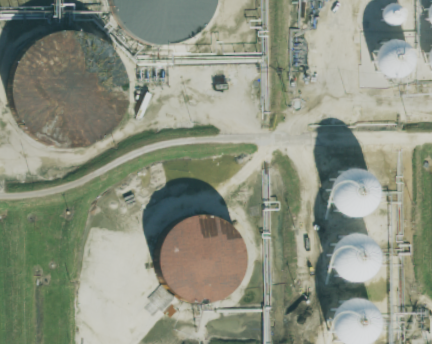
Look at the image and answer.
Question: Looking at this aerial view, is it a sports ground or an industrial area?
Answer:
industrial area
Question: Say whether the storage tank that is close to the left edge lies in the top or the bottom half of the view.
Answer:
top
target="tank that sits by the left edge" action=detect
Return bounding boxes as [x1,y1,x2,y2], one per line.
[6,29,128,146]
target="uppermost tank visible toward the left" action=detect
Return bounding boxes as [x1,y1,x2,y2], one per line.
[110,0,217,43]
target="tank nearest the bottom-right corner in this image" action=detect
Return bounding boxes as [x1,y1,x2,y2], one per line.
[324,298,384,344]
